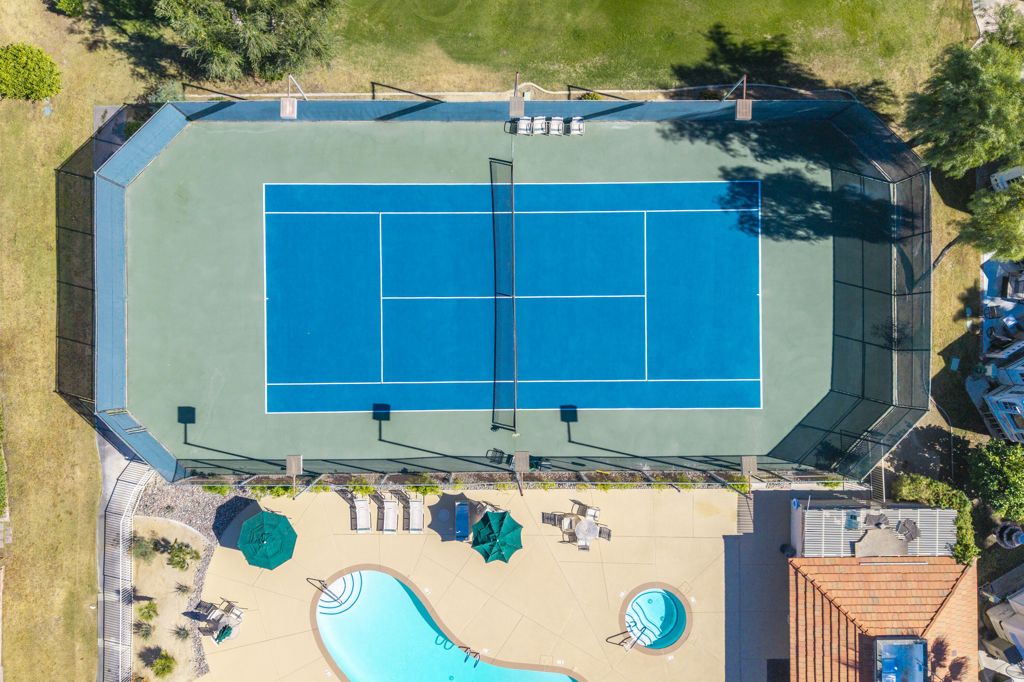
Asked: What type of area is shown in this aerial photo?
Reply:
sports ground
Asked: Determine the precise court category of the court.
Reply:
tennis court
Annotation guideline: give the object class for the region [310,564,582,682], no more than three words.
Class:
swimming pool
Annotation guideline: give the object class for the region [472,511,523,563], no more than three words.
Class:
umbrella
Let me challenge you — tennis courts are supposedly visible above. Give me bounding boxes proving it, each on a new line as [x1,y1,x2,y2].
[123,119,900,488]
